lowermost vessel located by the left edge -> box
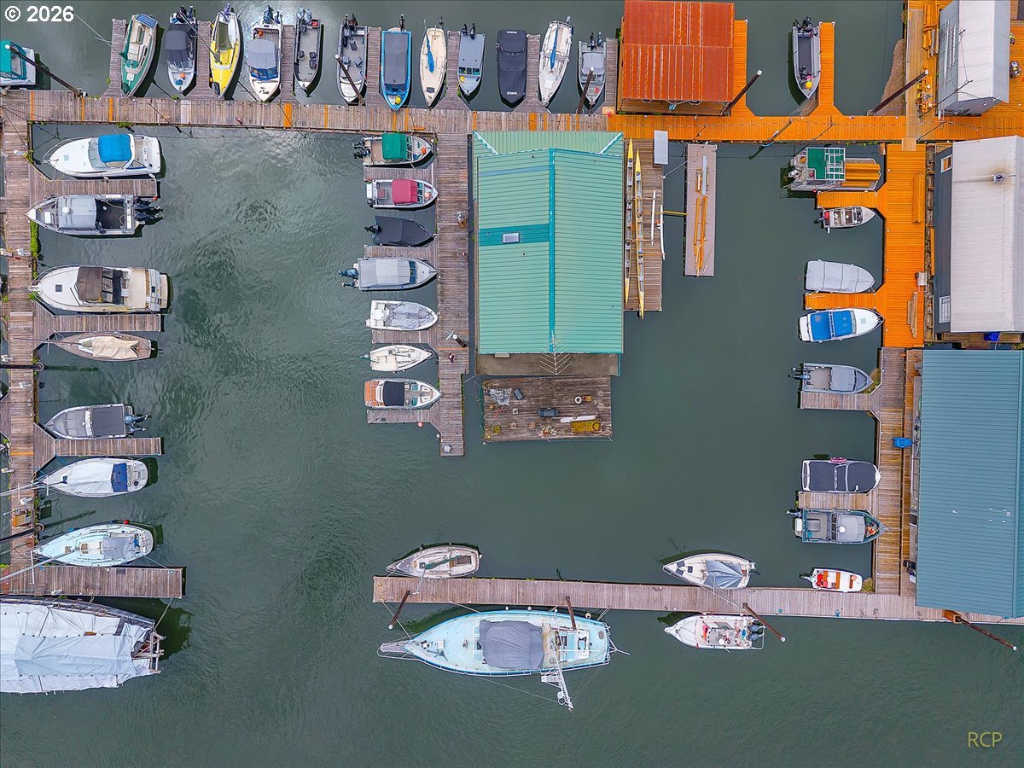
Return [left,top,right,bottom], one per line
[0,593,173,695]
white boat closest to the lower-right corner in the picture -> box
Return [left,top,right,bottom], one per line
[799,568,863,592]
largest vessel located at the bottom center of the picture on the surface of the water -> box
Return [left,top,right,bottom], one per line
[379,597,630,698]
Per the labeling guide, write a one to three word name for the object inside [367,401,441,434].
pier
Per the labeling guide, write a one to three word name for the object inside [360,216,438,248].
boat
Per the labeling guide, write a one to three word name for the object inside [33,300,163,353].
pier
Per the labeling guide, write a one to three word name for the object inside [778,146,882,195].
ship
